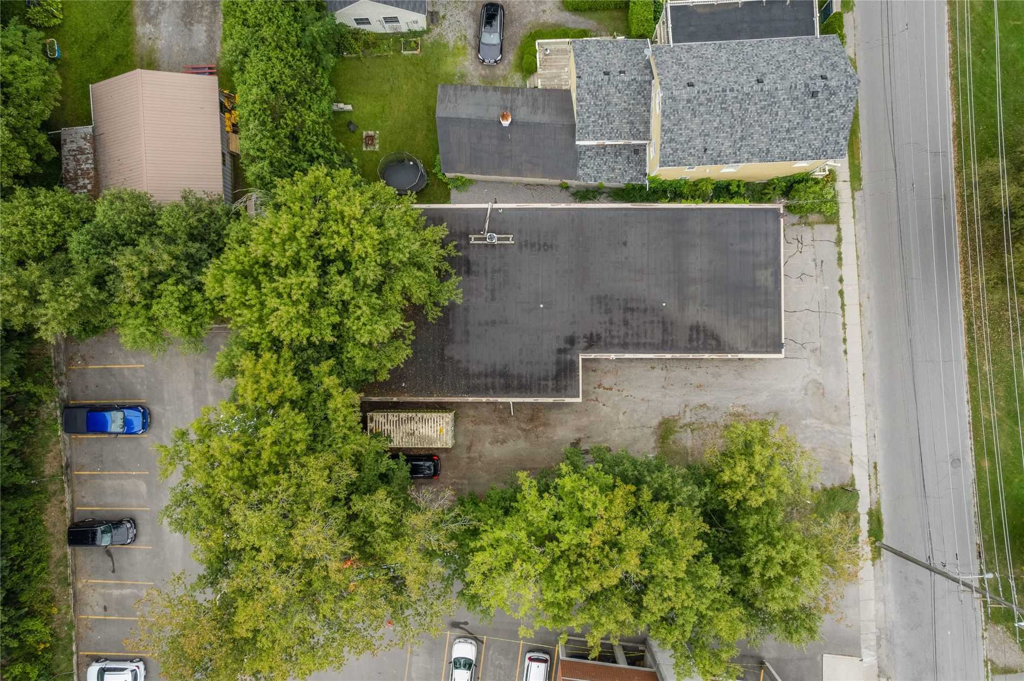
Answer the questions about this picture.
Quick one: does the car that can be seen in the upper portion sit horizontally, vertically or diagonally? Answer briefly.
vertically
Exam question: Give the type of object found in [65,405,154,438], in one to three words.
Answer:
truck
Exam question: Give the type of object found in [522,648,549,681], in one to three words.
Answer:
car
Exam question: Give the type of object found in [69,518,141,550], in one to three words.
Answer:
car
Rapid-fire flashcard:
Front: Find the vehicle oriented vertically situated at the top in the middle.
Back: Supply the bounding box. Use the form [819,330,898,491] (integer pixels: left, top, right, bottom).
[475,4,506,69]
